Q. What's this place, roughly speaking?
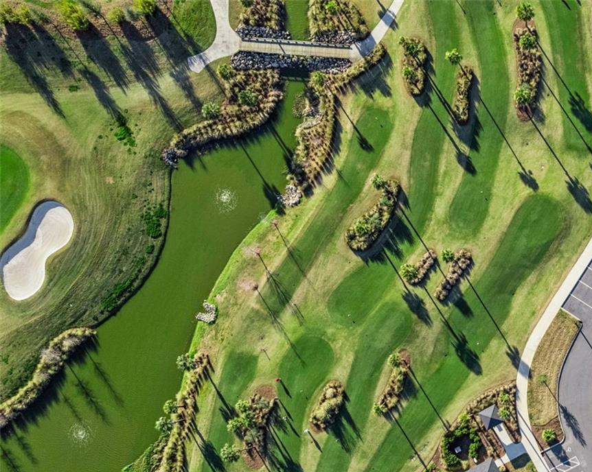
golf course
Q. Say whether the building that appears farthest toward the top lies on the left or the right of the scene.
right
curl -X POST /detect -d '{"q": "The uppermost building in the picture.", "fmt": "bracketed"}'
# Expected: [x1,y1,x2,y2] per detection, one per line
[478,404,503,429]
